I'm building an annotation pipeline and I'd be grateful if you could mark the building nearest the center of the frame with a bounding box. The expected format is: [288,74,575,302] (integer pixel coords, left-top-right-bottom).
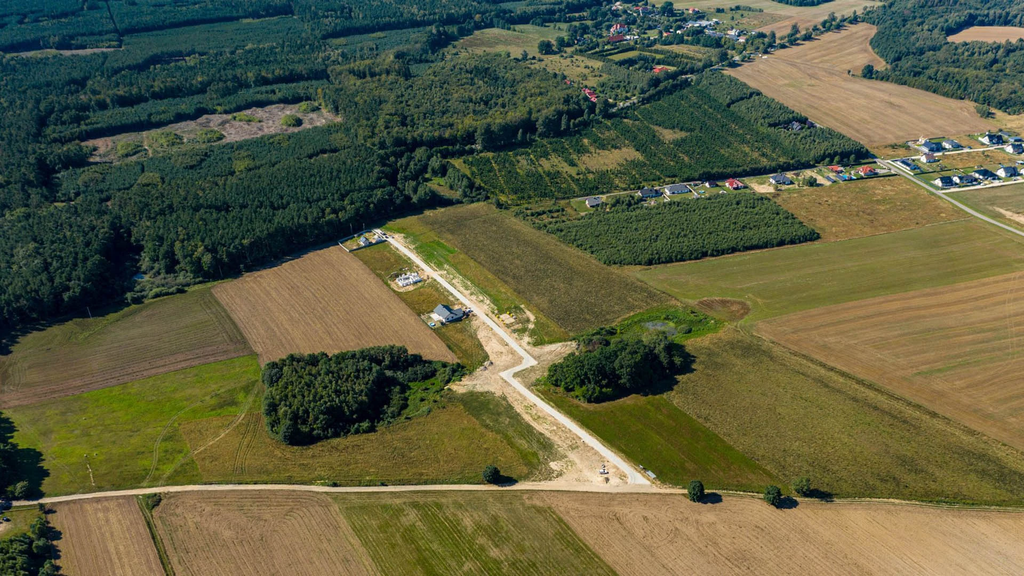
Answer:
[429,304,466,325]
